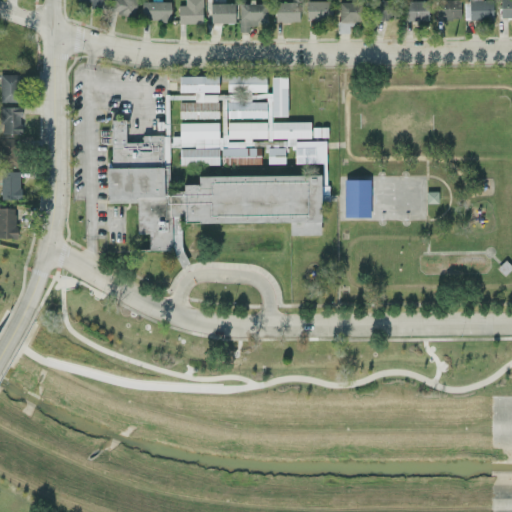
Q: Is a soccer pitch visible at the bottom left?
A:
No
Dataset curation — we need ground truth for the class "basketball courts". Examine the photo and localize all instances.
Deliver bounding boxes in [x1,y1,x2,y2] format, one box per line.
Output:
[398,176,422,220]
[374,176,398,220]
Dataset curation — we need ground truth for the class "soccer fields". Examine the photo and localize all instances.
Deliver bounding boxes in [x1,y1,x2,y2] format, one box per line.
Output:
[362,99,432,145]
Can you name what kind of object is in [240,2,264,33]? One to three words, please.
house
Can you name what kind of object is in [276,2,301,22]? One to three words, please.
house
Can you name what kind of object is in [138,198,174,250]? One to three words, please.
building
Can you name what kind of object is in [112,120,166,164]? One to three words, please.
building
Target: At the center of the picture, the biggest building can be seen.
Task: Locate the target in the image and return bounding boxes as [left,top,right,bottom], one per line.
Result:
[184,176,322,236]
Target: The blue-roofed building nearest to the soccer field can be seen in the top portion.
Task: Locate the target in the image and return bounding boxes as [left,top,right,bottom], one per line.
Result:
[346,180,372,218]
